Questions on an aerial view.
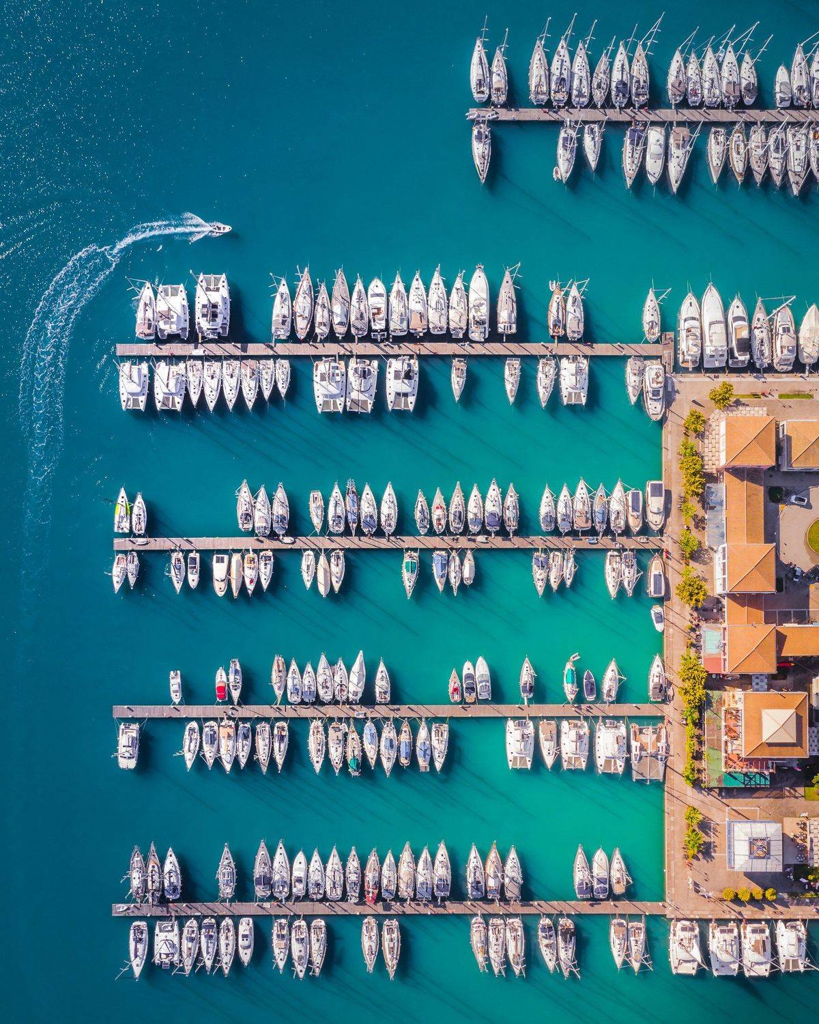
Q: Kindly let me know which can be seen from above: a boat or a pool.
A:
boat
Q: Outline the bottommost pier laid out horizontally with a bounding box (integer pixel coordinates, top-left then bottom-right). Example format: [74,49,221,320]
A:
[112,901,666,916]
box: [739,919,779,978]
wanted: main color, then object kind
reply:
white boat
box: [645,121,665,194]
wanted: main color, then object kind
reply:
white boat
